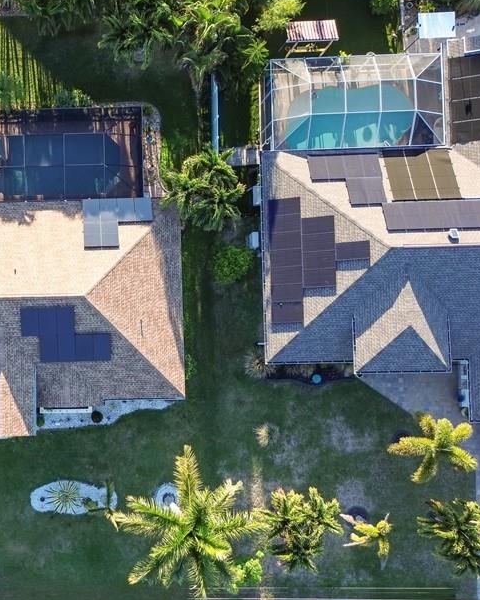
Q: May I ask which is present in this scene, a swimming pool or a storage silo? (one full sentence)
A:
Of the two, only a swimming pool appears.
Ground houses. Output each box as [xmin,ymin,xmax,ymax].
[261,36,480,422]
[0,199,185,439]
